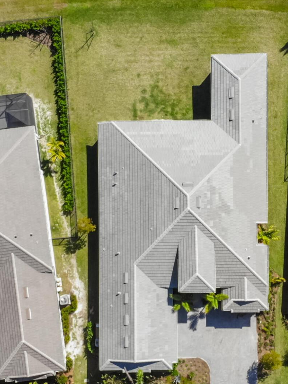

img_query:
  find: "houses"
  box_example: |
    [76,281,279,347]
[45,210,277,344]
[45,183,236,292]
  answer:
[99,52,269,373]
[0,125,68,380]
